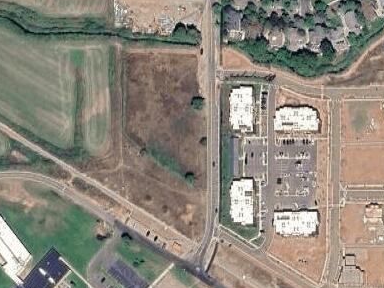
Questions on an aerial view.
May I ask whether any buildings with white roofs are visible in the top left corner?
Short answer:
No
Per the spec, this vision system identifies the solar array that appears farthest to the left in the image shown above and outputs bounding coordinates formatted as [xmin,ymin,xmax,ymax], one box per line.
[23,250,66,288]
